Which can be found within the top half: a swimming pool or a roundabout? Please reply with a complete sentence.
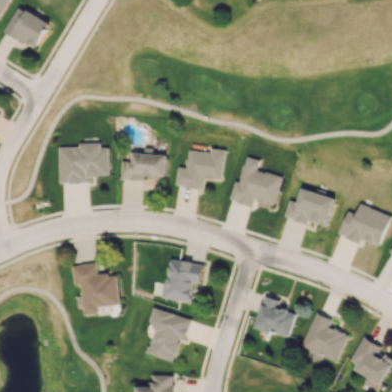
What appears within the top half is a swimming pool.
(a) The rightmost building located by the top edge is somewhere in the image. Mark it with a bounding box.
[6,11,49,48]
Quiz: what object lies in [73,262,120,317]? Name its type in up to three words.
house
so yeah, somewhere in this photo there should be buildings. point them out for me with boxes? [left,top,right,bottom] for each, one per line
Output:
[254,298,296,337]
[73,262,120,317]
[6,11,49,48]
[134,376,174,392]
[176,144,227,190]
[122,148,168,181]
[304,313,350,364]
[349,338,392,392]
[146,308,191,362]
[163,260,204,304]
[339,203,392,246]
[286,190,336,227]
[231,158,284,208]
[59,144,110,185]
